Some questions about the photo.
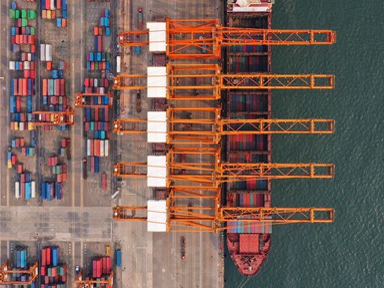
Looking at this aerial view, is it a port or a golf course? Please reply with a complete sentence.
The picture captures a port.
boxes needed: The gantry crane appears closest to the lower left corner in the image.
[0,259,39,285]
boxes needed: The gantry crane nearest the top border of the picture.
[119,18,337,62]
